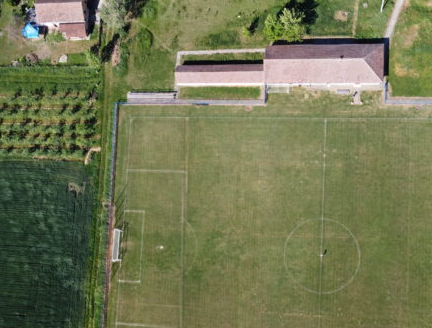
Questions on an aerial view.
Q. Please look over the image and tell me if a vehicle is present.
No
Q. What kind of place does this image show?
sports ground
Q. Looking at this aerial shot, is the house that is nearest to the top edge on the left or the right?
left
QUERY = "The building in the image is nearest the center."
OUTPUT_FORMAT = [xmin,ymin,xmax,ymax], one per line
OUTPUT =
[174,64,263,87]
